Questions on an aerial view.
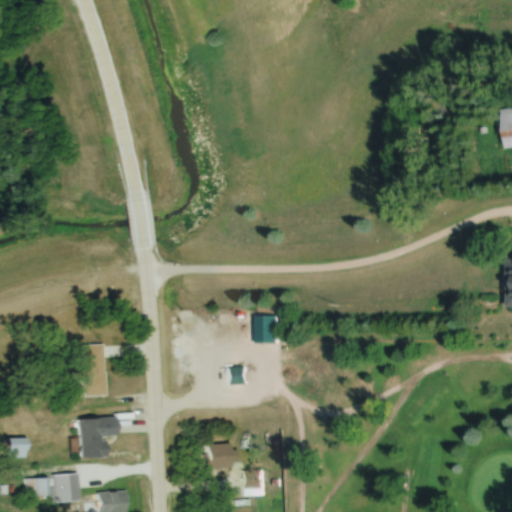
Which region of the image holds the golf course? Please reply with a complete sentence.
The golf course appears toward the bottom right of the photo.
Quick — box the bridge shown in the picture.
[126,189,156,250]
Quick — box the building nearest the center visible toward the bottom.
[251,314,277,342]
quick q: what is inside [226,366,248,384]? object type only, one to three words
building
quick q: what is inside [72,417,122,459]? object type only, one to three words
house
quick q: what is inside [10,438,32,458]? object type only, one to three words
building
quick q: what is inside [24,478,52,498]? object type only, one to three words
shed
